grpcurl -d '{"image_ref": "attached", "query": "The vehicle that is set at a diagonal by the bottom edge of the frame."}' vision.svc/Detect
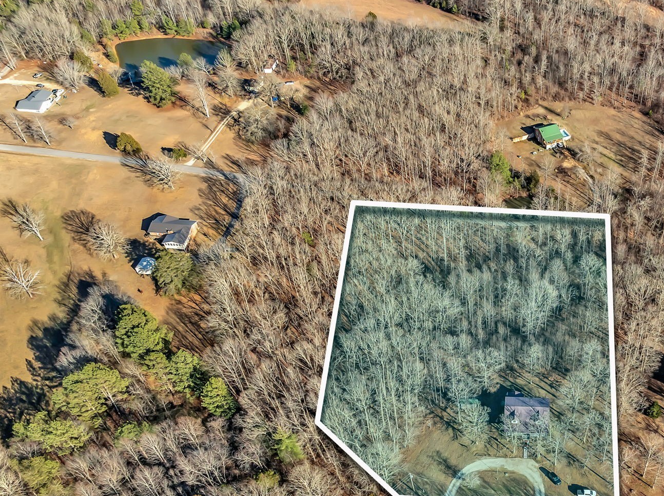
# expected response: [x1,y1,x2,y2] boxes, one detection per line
[546,470,561,487]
